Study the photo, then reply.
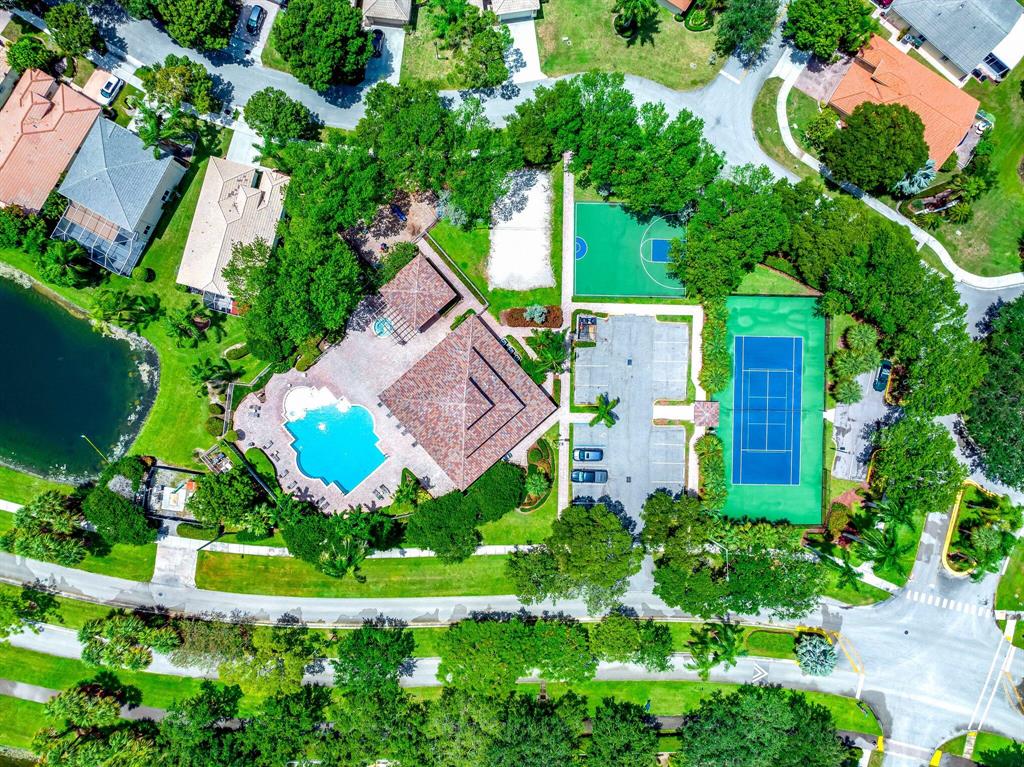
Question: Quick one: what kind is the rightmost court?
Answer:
tennis court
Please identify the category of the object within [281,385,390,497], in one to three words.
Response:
swimming pool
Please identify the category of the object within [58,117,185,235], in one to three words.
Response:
house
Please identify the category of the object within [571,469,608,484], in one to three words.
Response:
vehicle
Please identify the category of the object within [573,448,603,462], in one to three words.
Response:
car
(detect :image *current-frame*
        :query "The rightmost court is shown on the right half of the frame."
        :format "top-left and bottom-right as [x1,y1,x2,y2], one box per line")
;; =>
[720,296,826,524]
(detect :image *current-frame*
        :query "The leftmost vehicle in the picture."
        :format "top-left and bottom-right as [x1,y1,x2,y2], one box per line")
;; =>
[98,76,123,105]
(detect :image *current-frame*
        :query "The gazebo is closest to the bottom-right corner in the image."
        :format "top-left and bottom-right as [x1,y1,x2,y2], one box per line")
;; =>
[691,402,719,426]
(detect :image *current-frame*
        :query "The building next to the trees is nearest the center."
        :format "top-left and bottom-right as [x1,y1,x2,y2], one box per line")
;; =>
[378,313,557,491]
